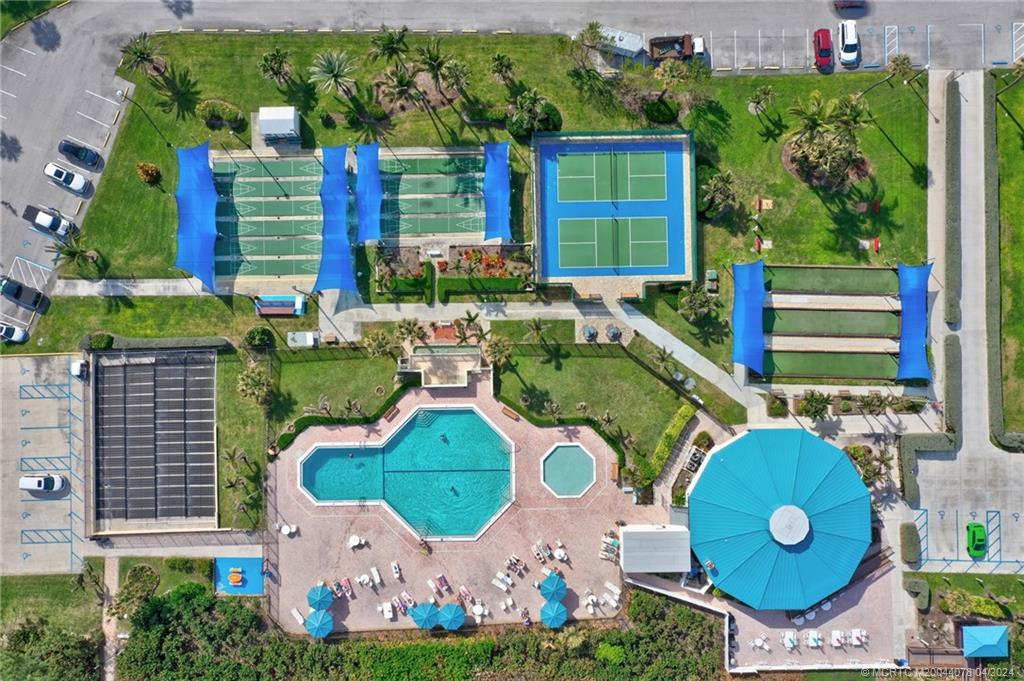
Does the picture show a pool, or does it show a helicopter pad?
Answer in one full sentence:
This aerial view contains a pool.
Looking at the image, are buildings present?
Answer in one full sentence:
Yes, the image includes a building.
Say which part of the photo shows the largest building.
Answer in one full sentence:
The largest building sits in the bottom right section of the image.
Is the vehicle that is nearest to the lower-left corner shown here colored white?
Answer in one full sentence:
Yes, the vehicle that is nearest to the lower-left corner is indeed white.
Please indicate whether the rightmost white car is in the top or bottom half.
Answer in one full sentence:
It is in the top half that the rightmost white car appears.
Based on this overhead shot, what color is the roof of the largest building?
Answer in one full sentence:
The roof over the largest building appears blue.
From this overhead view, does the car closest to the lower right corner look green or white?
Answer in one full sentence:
From above, the car closest to the lower right corner appears green.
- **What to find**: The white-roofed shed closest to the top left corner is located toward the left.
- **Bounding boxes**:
[259,107,302,147]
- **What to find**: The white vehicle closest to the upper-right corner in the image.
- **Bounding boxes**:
[837,23,859,66]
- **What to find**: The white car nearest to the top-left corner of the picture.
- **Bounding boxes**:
[45,163,89,193]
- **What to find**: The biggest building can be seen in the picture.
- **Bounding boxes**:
[685,428,872,612]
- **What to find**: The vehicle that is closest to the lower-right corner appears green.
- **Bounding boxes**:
[965,521,987,557]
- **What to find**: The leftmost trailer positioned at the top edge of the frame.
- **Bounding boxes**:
[600,25,644,57]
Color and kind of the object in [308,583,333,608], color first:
blue umbrella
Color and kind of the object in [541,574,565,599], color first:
blue umbrella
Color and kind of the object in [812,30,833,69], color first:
red car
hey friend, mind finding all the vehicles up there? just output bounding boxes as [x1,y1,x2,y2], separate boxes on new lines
[837,23,859,66]
[965,521,987,557]
[643,35,708,61]
[0,319,30,346]
[0,277,43,309]
[45,163,89,193]
[812,30,833,69]
[60,140,102,169]
[67,362,90,374]
[18,473,66,493]
[23,202,75,237]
